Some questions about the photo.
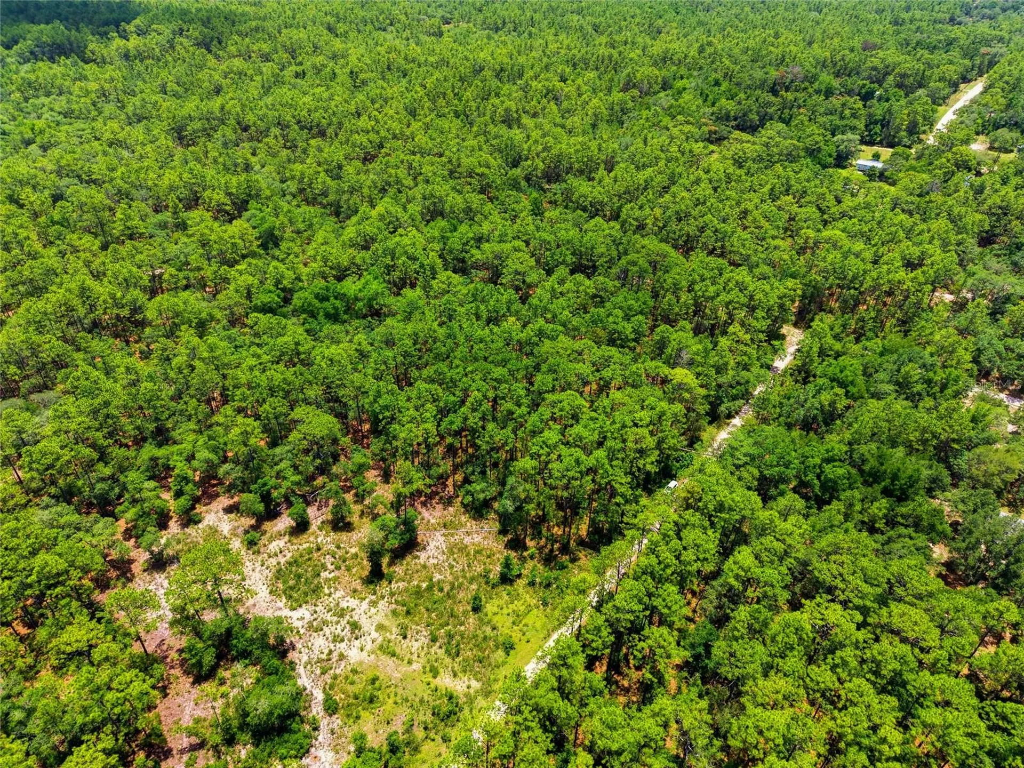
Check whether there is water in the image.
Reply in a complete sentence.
No, the picture contains no water.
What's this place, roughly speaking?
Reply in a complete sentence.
The area seen from above is a forest.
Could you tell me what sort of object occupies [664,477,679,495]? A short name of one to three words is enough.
car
